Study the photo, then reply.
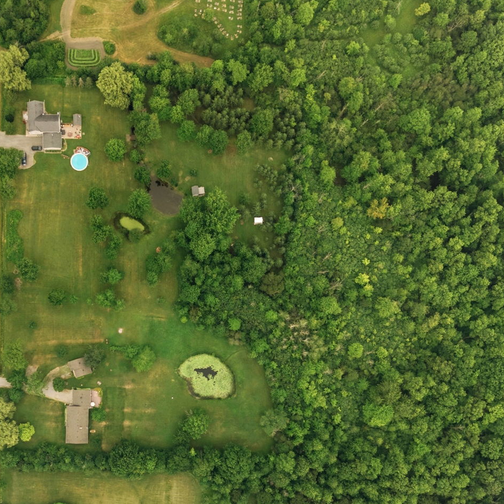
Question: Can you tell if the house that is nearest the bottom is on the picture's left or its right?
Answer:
left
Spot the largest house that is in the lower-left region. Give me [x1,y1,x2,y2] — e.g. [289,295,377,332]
[65,388,91,444]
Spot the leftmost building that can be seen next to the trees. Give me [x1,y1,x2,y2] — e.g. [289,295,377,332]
[27,100,63,153]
